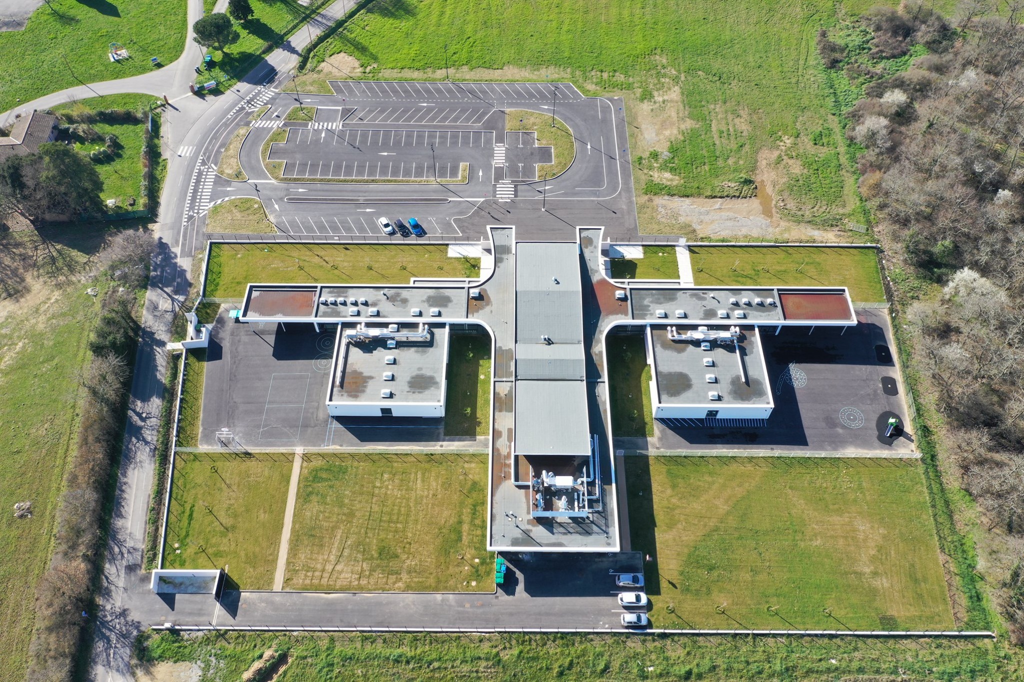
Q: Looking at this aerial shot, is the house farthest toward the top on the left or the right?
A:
left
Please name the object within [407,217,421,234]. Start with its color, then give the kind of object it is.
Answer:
blue car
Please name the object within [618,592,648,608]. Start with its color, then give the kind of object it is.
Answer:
white car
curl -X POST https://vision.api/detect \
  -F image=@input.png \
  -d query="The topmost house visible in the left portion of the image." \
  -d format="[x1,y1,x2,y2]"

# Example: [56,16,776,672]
[0,110,61,163]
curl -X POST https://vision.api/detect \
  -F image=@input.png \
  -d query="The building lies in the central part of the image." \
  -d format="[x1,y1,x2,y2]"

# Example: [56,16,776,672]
[240,226,857,557]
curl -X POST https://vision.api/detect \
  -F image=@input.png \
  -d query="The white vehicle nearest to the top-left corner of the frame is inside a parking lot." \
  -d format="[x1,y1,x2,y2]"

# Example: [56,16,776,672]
[379,217,393,234]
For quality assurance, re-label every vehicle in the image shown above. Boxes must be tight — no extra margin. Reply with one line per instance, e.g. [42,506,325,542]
[407,217,421,234]
[616,573,643,589]
[621,613,648,628]
[379,217,393,234]
[393,219,407,236]
[618,592,648,608]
